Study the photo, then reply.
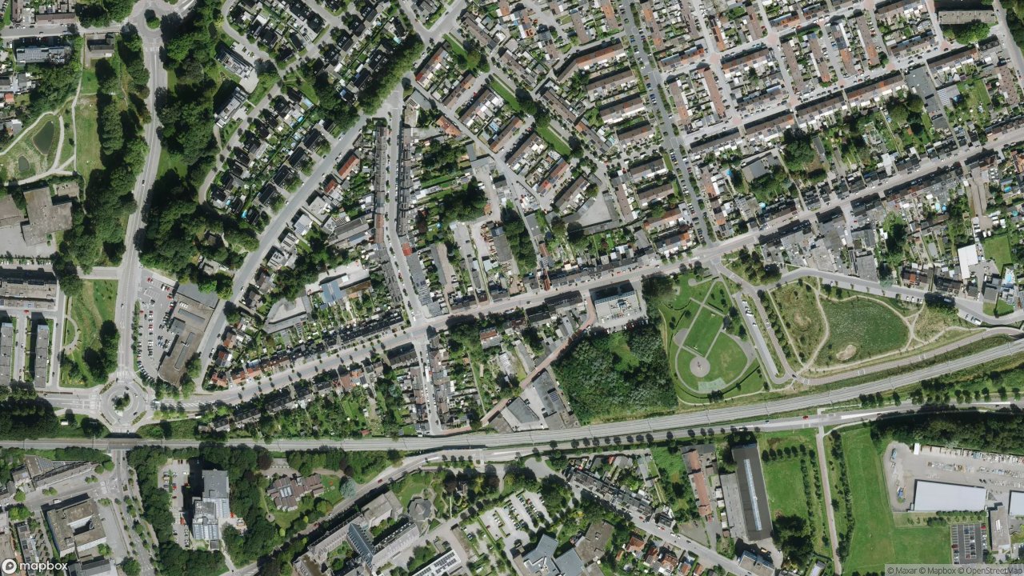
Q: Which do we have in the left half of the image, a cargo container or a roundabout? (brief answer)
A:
roundabout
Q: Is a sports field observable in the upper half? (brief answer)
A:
No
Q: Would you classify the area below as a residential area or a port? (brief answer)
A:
residential area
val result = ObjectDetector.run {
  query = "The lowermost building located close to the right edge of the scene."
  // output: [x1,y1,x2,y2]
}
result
[990,506,1010,550]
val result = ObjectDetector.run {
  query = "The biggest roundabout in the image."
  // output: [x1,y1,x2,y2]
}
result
[95,377,148,431]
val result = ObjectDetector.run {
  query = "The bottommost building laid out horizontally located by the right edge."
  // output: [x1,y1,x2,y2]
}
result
[914,481,986,511]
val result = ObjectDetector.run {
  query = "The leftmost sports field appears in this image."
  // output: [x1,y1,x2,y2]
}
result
[842,429,894,573]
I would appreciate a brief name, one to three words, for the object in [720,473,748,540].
shed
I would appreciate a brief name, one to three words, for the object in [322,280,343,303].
building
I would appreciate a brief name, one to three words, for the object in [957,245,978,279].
building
